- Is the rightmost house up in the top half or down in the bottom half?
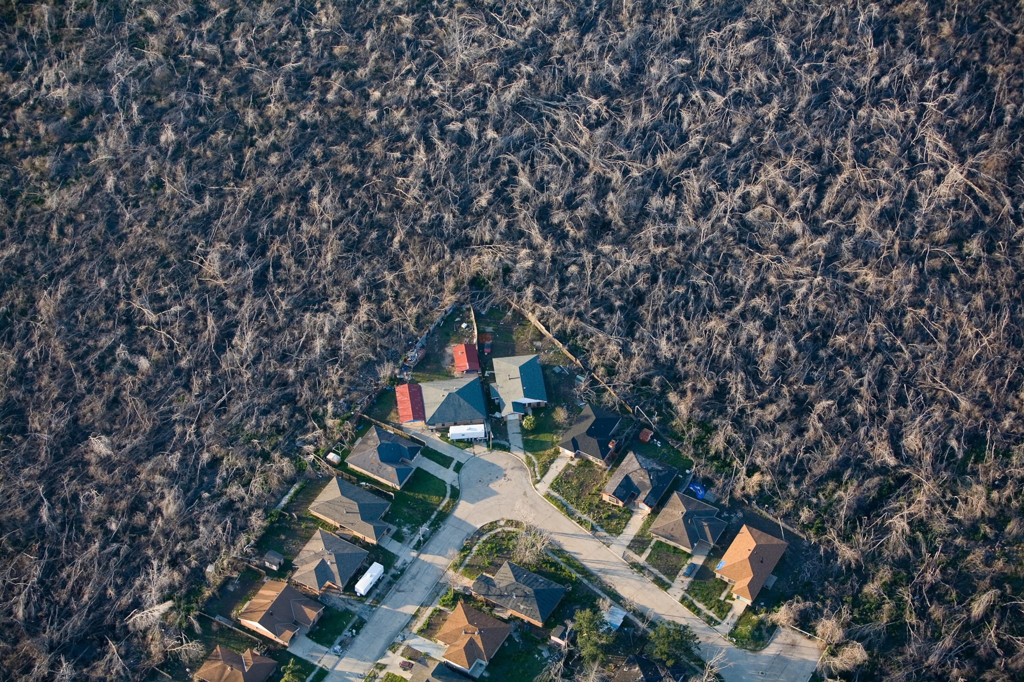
bottom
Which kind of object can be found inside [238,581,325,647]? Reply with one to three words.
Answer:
house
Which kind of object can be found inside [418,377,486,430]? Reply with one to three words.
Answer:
house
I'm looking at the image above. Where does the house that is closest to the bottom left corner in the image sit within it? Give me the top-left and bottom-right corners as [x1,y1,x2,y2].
[196,645,277,682]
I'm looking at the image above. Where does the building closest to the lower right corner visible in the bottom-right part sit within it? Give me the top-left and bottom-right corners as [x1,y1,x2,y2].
[714,524,788,607]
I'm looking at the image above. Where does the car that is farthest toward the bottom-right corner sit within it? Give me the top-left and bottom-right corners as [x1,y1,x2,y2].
[682,561,698,578]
